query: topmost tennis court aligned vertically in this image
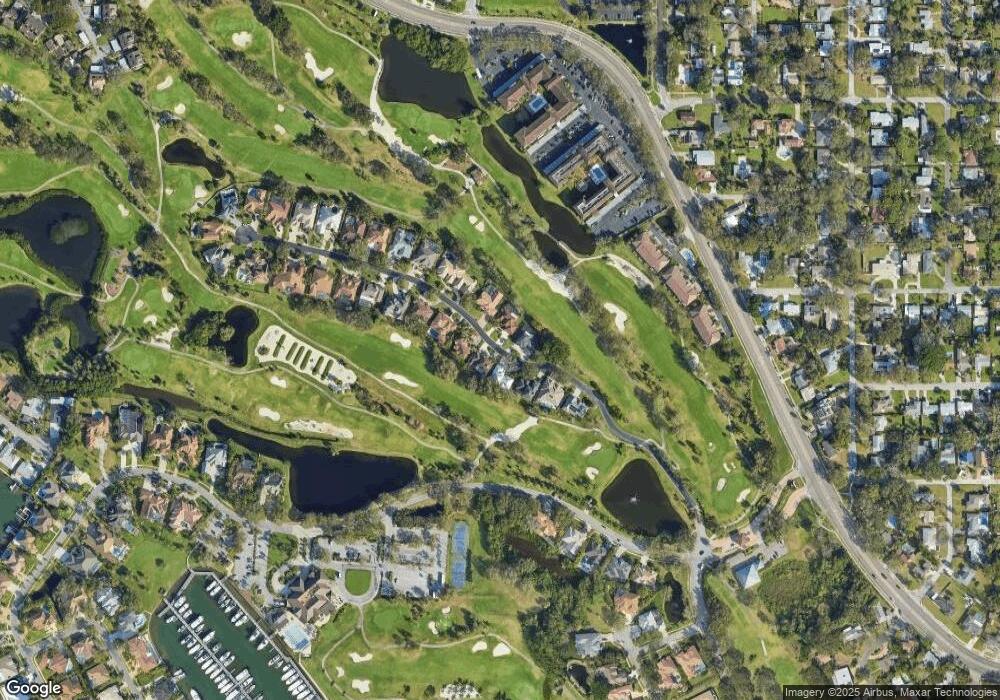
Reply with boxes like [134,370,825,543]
[453,521,470,556]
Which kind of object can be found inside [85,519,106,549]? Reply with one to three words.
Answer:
house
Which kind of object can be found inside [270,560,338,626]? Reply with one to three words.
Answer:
building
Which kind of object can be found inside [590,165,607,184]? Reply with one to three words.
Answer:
swimming pool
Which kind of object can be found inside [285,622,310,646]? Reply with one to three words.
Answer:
swimming pool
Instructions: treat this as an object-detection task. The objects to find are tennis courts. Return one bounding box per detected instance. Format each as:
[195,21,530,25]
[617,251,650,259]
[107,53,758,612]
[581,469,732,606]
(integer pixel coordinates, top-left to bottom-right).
[453,521,470,556]
[452,561,467,589]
